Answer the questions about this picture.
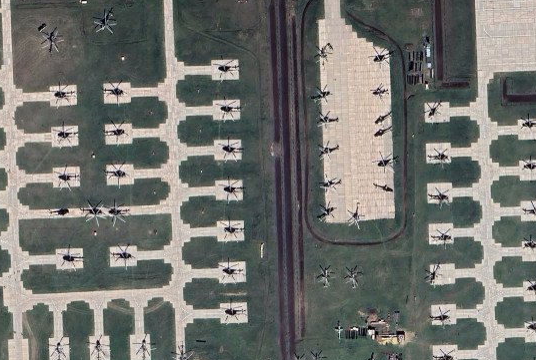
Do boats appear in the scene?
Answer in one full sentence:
No, there is no boat in the image.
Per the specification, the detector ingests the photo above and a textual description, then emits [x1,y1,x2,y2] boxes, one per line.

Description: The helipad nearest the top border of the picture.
[212,59,239,79]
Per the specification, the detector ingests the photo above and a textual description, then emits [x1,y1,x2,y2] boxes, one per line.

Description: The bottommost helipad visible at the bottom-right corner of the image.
[433,345,458,360]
